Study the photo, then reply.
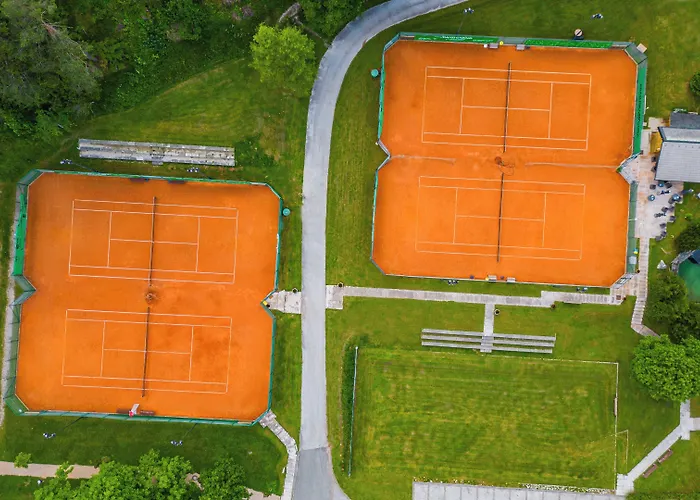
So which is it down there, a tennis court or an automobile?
tennis court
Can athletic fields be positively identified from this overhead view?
Yes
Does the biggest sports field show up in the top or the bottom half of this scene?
bottom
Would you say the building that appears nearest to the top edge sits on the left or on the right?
right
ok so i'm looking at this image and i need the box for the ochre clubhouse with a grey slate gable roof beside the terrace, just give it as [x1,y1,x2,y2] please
[654,111,700,183]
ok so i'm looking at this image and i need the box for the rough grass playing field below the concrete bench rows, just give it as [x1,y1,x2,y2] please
[349,350,628,489]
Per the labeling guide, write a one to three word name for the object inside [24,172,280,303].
tennis court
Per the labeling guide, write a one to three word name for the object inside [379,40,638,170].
tennis court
